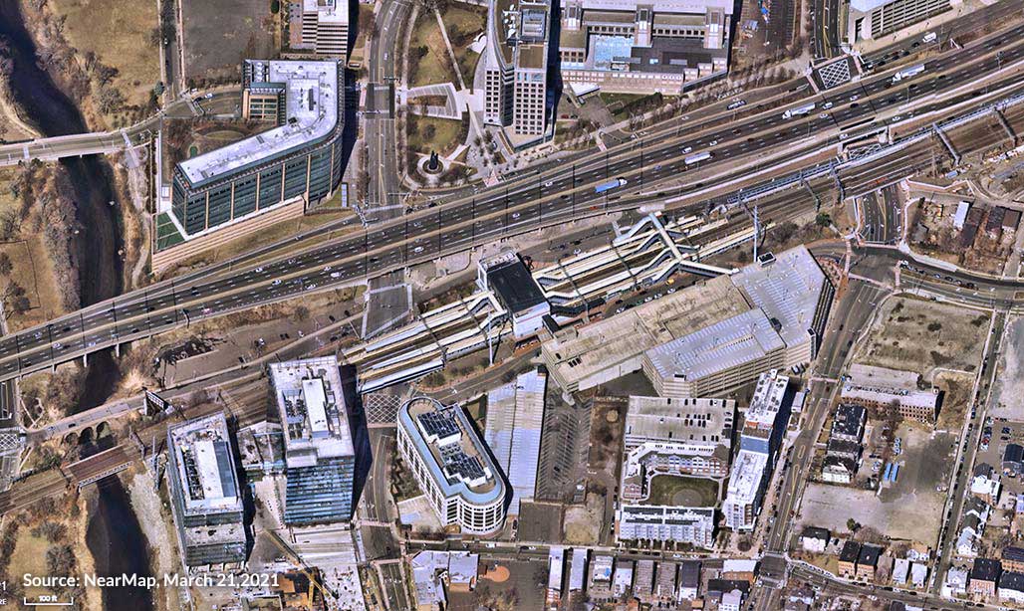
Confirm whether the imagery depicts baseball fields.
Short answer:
No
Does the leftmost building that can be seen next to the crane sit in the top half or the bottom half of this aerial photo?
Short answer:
bottom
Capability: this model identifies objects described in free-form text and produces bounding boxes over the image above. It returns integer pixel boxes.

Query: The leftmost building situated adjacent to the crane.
[167,411,247,574]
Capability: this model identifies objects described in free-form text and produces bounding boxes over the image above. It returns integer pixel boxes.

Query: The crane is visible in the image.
[262,528,339,611]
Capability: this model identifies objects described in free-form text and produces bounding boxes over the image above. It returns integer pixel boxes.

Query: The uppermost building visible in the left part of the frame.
[302,0,349,57]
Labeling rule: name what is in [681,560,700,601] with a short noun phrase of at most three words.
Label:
building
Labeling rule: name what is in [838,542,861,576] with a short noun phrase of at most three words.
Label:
house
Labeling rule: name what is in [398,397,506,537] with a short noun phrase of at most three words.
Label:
building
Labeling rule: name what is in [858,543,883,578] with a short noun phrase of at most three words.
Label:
house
